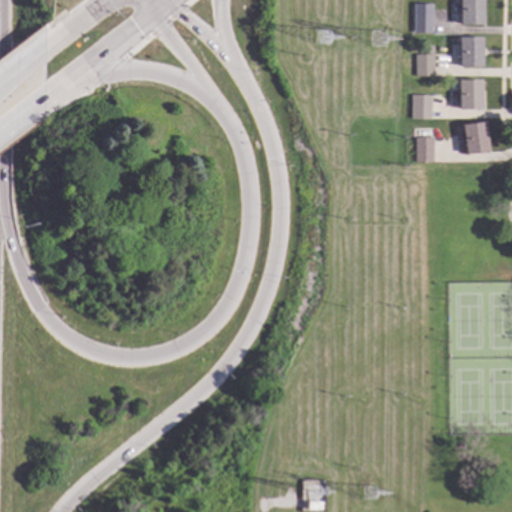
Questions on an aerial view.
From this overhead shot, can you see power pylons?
Yes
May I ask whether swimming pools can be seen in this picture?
No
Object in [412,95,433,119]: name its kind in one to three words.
building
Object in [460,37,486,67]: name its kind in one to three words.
house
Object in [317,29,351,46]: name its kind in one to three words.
pylon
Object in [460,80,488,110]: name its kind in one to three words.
house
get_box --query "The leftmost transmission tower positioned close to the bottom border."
[308,486,342,503]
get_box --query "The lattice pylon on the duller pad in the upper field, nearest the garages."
[372,30,406,46]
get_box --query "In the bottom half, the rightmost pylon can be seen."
[363,484,398,501]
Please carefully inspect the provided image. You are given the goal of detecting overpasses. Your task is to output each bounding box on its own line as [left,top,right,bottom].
[0,24,48,154]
